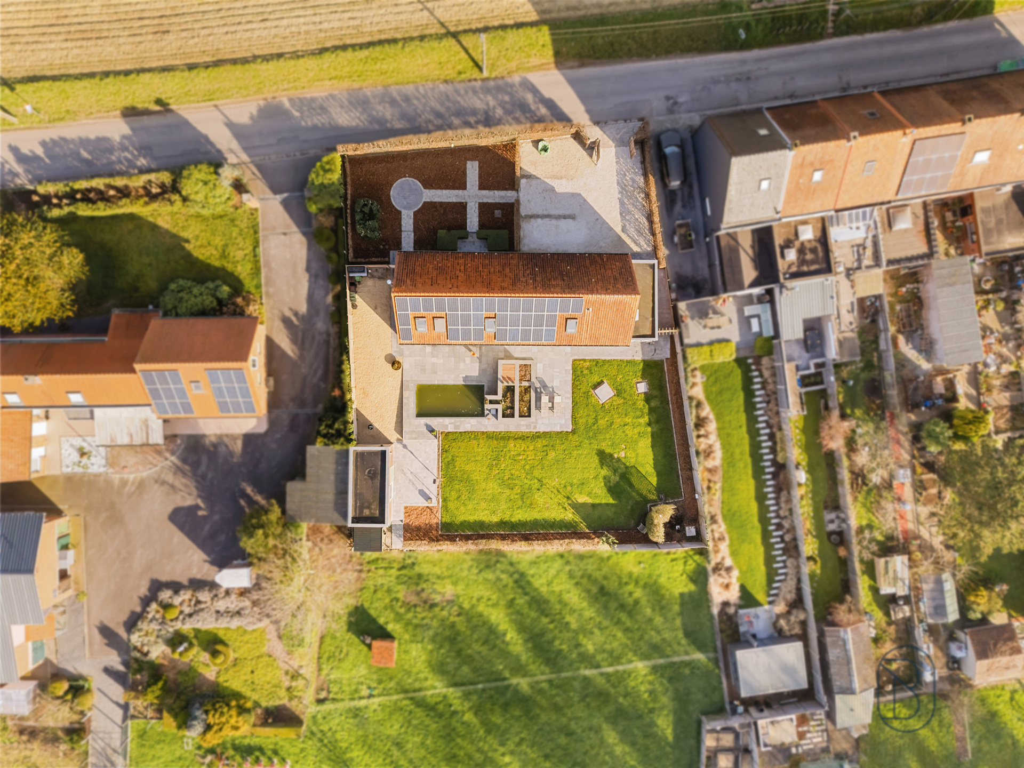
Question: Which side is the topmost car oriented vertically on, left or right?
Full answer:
The topmost car oriented vertically sits on the right side.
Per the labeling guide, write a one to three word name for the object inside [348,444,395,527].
building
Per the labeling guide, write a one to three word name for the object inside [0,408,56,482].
house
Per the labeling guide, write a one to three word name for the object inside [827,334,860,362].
shed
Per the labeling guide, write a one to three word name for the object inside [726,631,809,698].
building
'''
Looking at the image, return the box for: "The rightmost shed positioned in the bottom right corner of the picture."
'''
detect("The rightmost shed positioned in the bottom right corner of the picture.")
[949,606,1024,686]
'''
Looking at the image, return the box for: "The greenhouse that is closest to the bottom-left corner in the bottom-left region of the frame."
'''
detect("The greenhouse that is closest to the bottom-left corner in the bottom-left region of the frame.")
[0,677,47,715]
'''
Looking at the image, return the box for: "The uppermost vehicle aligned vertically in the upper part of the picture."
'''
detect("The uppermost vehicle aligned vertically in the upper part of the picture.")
[658,136,683,188]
